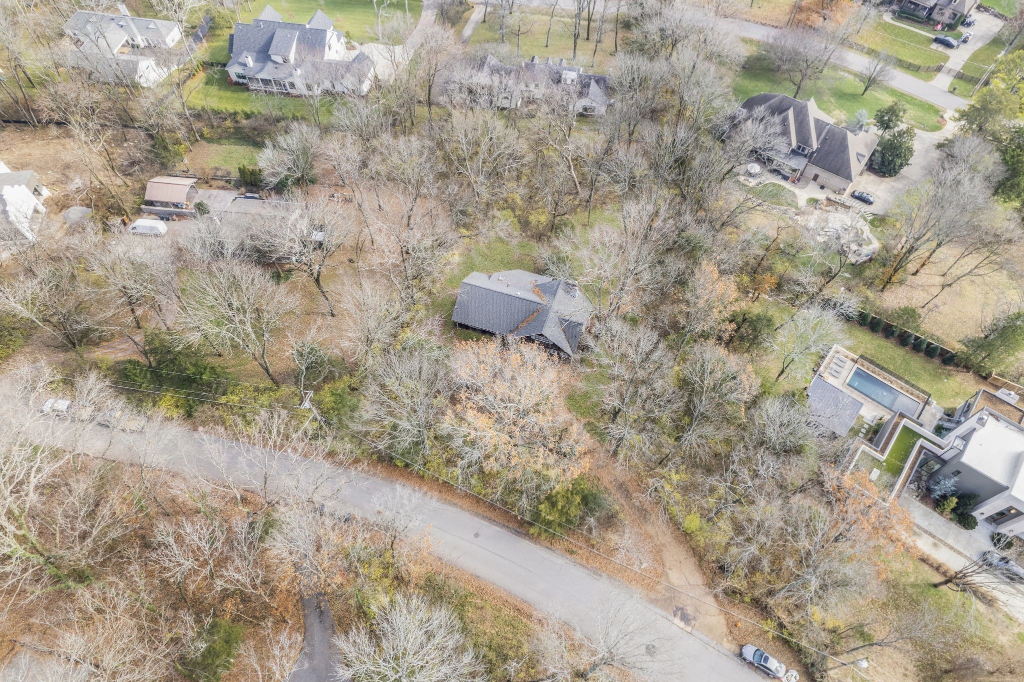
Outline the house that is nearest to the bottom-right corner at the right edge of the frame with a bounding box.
[922,383,1024,543]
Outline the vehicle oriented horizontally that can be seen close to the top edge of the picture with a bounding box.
[932,30,964,47]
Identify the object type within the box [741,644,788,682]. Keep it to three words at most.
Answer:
car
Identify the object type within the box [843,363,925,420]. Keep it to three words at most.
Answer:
swimming pool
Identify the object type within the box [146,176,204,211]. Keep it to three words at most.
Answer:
building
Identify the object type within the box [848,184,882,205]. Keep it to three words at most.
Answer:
car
